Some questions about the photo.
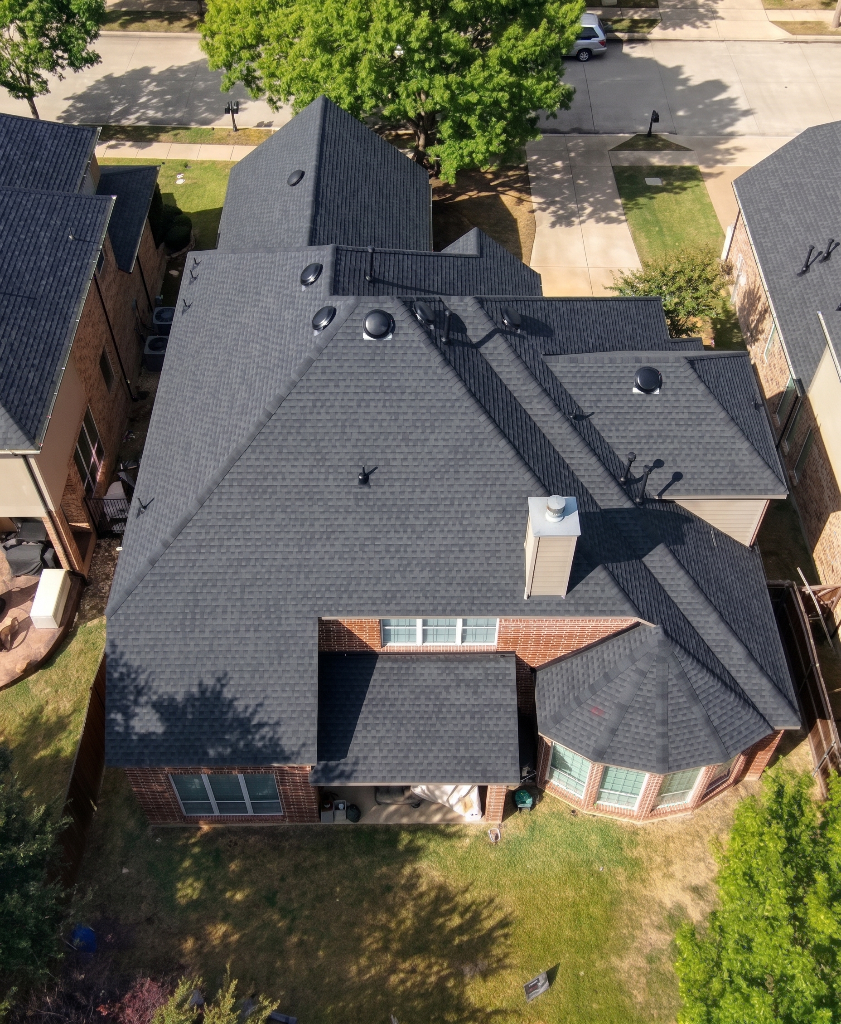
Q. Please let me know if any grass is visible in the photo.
Yes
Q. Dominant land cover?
buildings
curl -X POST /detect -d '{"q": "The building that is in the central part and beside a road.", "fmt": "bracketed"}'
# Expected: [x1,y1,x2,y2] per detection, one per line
[104,94,802,829]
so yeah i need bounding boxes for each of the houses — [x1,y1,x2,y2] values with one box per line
[0,107,169,597]
[104,94,802,829]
